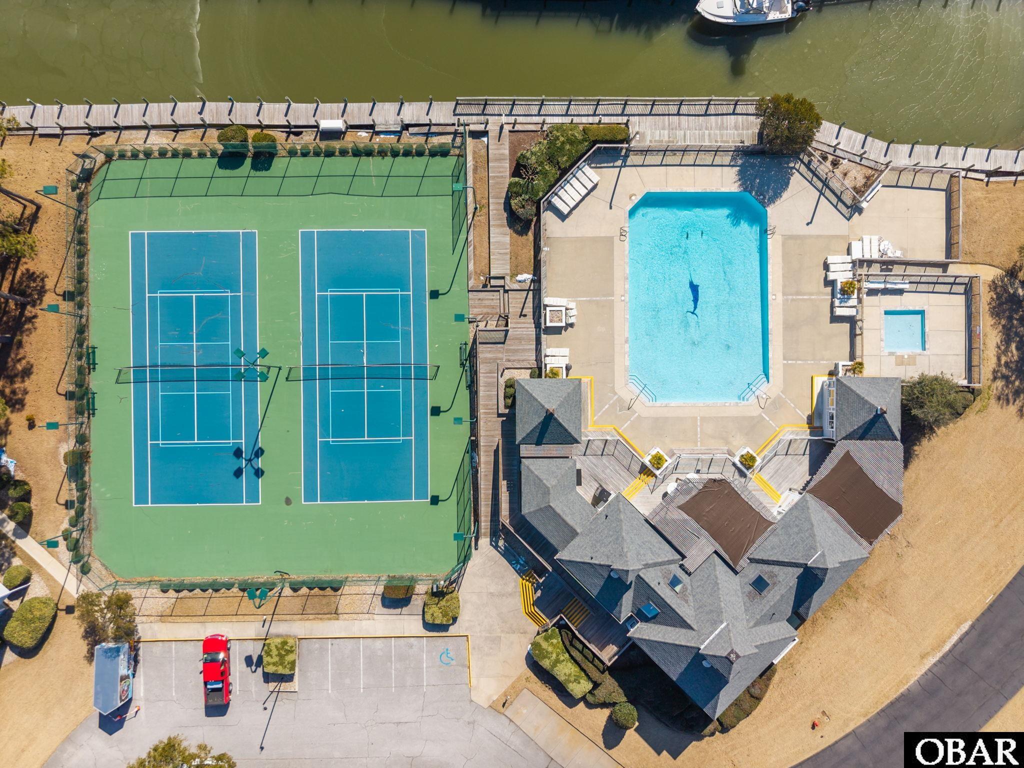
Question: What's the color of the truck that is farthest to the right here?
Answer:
red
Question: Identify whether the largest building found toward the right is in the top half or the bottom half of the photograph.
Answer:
bottom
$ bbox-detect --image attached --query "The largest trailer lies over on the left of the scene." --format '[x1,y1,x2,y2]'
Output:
[90,633,137,720]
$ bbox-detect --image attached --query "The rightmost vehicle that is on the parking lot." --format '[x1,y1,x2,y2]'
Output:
[199,631,233,705]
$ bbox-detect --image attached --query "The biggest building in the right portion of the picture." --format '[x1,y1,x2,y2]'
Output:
[521,458,869,720]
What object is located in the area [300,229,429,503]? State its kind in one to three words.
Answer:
tennis court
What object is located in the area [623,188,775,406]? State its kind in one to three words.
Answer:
swimming pool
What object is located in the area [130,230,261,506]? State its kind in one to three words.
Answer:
tennis court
